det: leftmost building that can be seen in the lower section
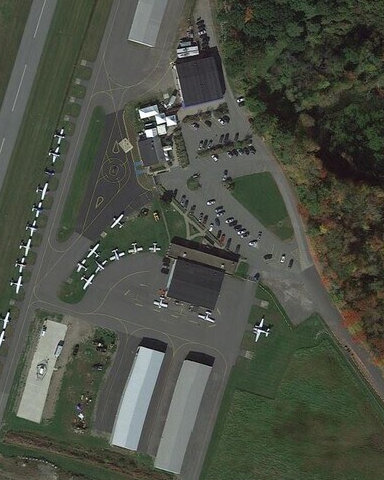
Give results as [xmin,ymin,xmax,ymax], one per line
[111,346,165,451]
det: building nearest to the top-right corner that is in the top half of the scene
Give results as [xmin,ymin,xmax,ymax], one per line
[174,57,222,106]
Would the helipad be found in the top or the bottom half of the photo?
bottom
